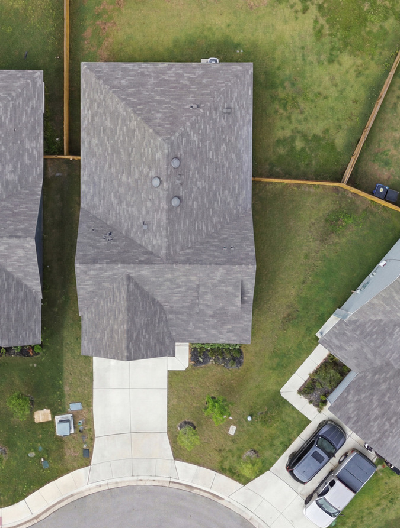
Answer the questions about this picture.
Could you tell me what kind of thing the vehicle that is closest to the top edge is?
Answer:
car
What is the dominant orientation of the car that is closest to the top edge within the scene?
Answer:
at an angle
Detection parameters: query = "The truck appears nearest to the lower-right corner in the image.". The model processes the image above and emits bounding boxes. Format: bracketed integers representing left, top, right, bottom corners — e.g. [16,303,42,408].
[302,449,374,528]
